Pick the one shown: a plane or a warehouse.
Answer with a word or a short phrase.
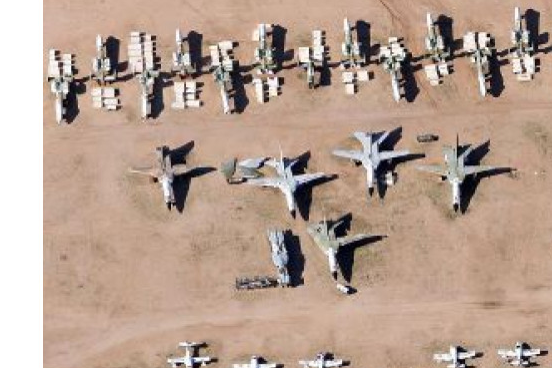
plane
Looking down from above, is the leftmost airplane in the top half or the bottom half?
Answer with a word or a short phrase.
top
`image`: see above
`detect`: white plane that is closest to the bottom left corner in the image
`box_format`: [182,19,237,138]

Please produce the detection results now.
[168,341,210,368]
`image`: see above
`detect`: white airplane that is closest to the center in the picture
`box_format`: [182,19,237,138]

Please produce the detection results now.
[248,145,324,220]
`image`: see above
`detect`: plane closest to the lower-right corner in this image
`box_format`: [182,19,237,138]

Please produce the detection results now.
[497,342,540,368]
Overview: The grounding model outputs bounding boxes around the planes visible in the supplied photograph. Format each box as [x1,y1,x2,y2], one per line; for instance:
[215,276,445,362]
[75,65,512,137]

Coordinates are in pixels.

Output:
[332,120,408,197]
[381,47,404,104]
[298,55,321,93]
[248,145,324,220]
[464,42,488,98]
[129,138,205,212]
[411,145,497,213]
[497,342,540,368]
[132,64,156,120]
[267,229,289,286]
[168,341,210,368]
[512,7,536,56]
[255,23,278,72]
[299,353,342,368]
[210,57,233,115]
[339,17,363,65]
[90,33,114,82]
[423,13,447,62]
[233,356,276,368]
[46,68,70,124]
[433,346,476,368]
[170,28,194,77]
[302,209,372,281]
